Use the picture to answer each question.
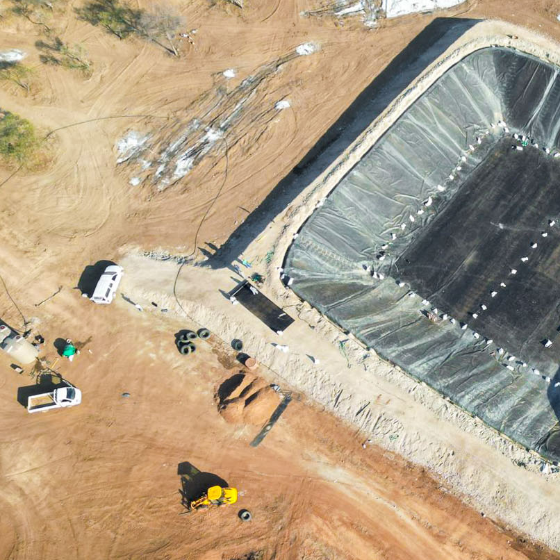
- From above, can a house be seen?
No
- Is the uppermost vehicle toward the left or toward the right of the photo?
left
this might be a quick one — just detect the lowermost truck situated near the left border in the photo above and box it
[19,384,81,411]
